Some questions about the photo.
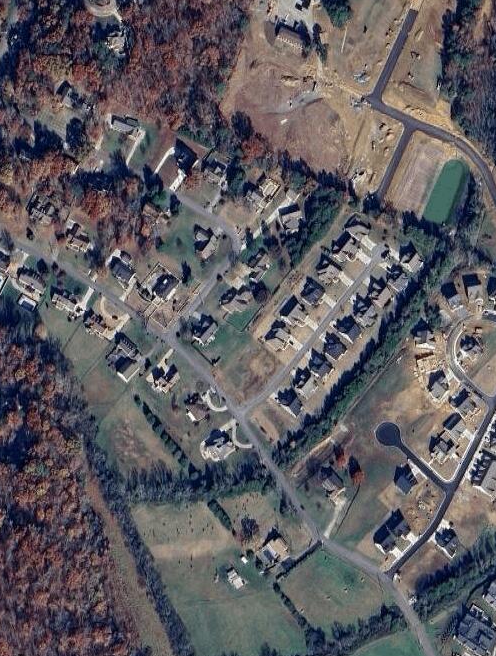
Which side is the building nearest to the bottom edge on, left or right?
right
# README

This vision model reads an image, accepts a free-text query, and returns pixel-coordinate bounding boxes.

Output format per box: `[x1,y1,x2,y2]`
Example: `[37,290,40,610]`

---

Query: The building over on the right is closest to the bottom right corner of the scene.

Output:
[454,610,496,655]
